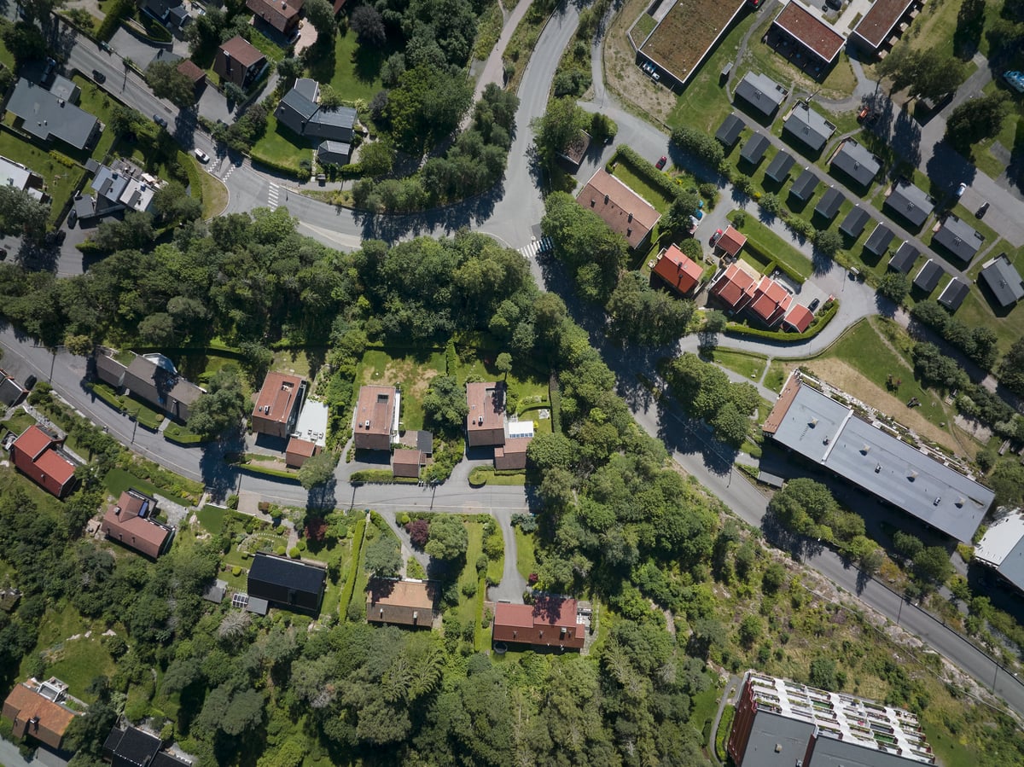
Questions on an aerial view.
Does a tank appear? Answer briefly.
No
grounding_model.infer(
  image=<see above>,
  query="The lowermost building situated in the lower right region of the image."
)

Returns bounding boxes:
[722,669,937,767]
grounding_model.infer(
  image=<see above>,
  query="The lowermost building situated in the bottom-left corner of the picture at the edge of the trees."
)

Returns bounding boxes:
[104,719,195,767]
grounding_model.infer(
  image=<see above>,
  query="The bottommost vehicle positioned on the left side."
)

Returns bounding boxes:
[22,374,36,390]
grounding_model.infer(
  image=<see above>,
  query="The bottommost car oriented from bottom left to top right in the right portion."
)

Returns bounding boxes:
[808,297,822,312]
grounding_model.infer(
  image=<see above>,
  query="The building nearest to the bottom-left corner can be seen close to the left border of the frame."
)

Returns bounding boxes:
[1,673,81,751]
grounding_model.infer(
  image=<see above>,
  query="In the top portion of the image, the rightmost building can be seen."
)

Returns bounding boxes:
[976,256,1024,306]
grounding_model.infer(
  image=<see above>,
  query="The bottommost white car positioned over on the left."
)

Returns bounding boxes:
[193,148,209,161]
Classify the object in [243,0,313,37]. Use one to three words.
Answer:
house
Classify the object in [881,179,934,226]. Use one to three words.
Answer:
building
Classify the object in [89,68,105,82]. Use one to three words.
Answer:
car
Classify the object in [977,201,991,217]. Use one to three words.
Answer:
car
